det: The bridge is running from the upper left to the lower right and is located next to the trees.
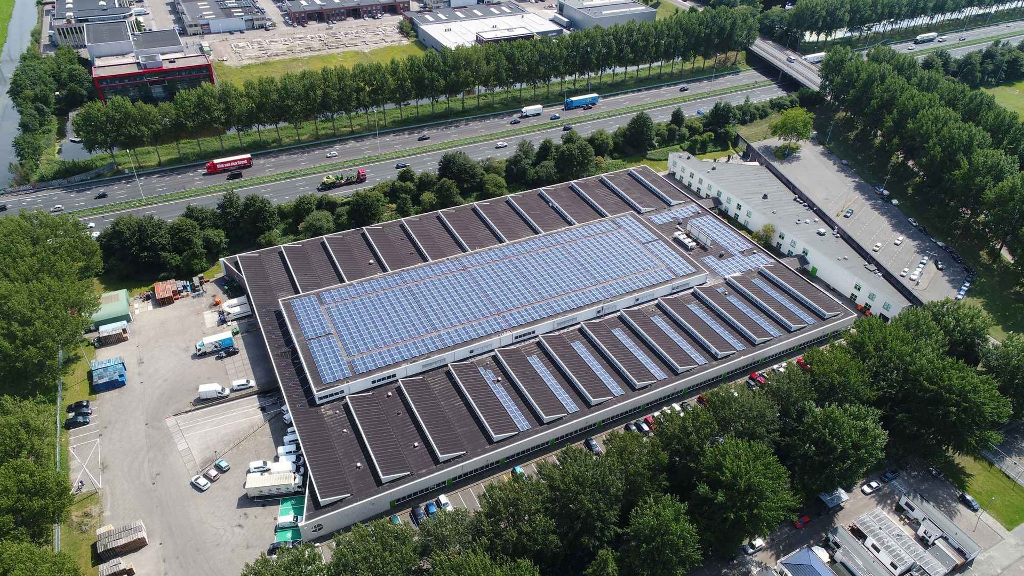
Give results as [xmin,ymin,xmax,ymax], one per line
[745,32,829,93]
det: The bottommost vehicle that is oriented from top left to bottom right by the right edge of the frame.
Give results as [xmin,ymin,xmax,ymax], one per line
[957,492,979,511]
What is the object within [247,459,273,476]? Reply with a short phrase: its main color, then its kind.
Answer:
white vehicle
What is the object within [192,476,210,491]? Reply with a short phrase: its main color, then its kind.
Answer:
white car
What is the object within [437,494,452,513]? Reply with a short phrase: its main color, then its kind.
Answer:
white car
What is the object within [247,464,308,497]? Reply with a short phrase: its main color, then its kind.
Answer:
white truck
